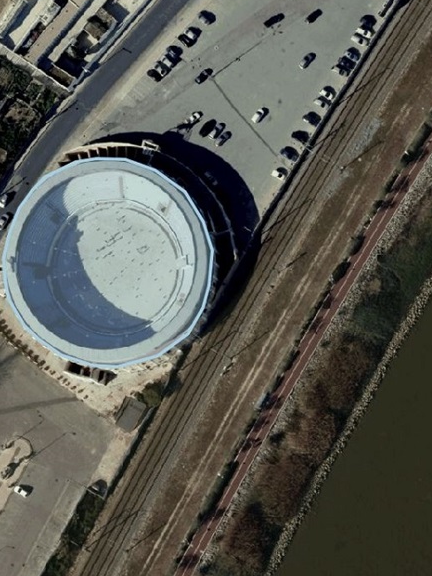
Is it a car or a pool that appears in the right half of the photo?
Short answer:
car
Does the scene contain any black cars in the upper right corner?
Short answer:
Yes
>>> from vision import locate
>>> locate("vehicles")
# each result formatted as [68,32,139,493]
[197,11,214,25]
[0,212,10,231]
[195,68,213,84]
[145,66,162,80]
[299,52,316,70]
[311,95,330,109]
[177,34,193,48]
[264,13,284,28]
[356,15,376,30]
[353,25,373,40]
[344,48,362,63]
[318,87,335,101]
[181,27,198,42]
[164,45,183,60]
[0,191,9,209]
[350,32,370,47]
[331,63,351,77]
[270,167,288,181]
[12,483,31,499]
[291,129,310,144]
[199,119,216,138]
[152,61,170,77]
[250,106,268,124]
[301,111,320,127]
[280,146,299,161]
[209,123,224,140]
[159,55,177,70]
[336,54,355,70]
[215,131,232,148]
[305,8,323,24]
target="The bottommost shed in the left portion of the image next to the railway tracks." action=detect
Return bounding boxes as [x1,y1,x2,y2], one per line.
[113,395,148,433]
